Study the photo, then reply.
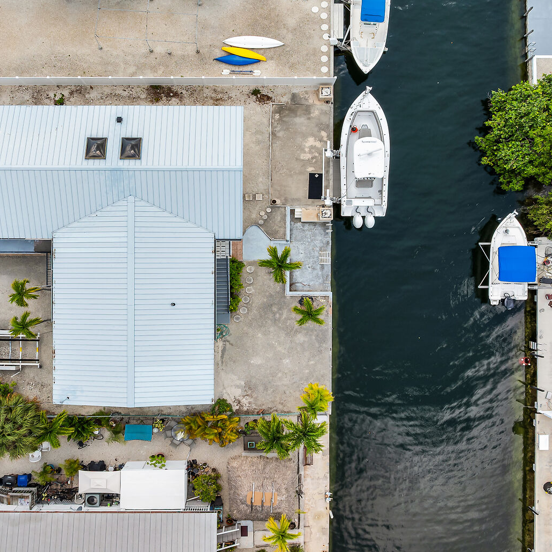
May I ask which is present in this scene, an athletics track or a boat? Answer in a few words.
boat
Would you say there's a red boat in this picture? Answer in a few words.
No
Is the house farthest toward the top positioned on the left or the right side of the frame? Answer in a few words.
left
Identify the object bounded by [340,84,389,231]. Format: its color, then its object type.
white boat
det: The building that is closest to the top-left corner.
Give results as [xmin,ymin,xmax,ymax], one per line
[0,106,243,408]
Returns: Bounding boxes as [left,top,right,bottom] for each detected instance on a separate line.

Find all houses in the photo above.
[0,457,241,552]
[0,106,243,408]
